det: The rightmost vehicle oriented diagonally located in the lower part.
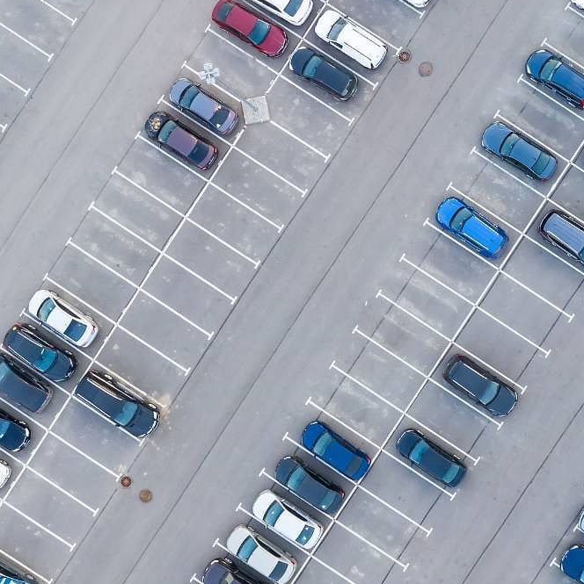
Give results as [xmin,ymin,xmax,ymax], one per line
[443,354,519,415]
